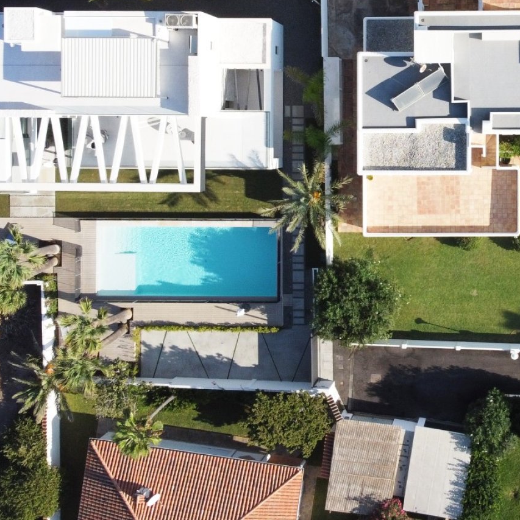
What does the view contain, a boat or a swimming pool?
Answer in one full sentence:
There is a swimming pool in the scene.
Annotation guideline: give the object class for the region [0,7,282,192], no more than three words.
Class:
house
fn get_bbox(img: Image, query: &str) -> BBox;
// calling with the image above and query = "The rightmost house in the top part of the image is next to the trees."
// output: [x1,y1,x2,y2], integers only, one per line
[358,10,520,235]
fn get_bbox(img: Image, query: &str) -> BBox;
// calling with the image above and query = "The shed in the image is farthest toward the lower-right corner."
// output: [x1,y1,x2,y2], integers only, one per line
[401,423,470,520]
